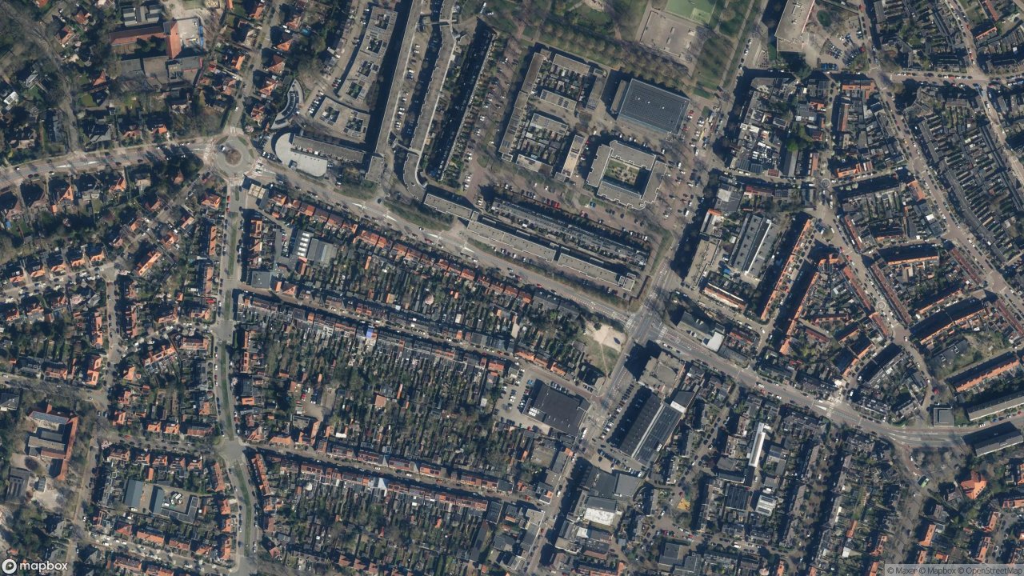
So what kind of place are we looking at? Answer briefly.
residential area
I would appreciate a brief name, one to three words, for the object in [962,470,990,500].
house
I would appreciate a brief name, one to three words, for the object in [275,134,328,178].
building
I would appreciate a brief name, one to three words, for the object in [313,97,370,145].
building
